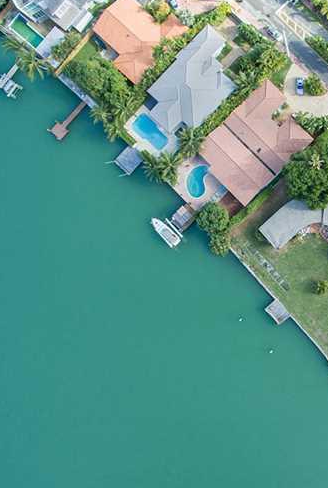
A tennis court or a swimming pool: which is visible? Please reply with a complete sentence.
The one in the frame is a swimming pool.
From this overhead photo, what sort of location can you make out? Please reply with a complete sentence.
This looks like a residential area.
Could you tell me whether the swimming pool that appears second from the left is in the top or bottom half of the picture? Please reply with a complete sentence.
The swimming pool that appears second from the left sits in the top half of the picture.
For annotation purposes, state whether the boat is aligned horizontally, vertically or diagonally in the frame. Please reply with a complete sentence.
What the image shows is the boat lying diagonally.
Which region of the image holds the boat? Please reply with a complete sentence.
The boat appears toward the center of the photo.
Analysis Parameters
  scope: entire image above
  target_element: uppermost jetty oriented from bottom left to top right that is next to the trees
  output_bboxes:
[48,103,90,141]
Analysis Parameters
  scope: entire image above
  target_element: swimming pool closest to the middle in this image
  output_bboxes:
[184,163,212,199]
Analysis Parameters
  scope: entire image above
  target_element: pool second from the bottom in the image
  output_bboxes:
[132,112,169,151]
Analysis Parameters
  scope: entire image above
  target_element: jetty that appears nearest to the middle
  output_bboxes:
[172,205,198,233]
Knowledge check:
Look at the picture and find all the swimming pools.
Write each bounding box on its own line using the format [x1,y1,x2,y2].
[184,163,212,199]
[132,112,169,151]
[7,13,46,51]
